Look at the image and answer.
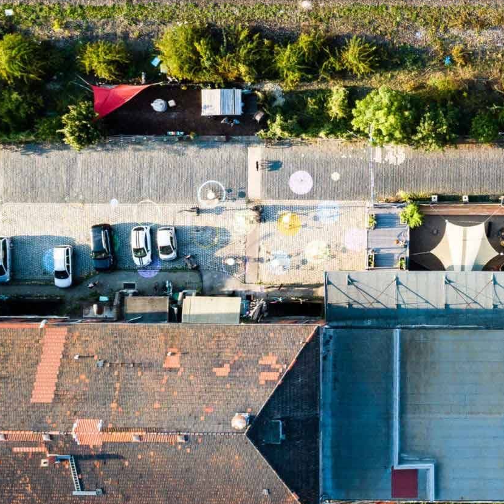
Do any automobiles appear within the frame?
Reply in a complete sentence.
Yes, looking at the shot, I can spot an automobile.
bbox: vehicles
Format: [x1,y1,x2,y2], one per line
[154,226,179,261]
[128,226,155,268]
[88,223,117,271]
[49,245,74,288]
[0,237,13,283]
